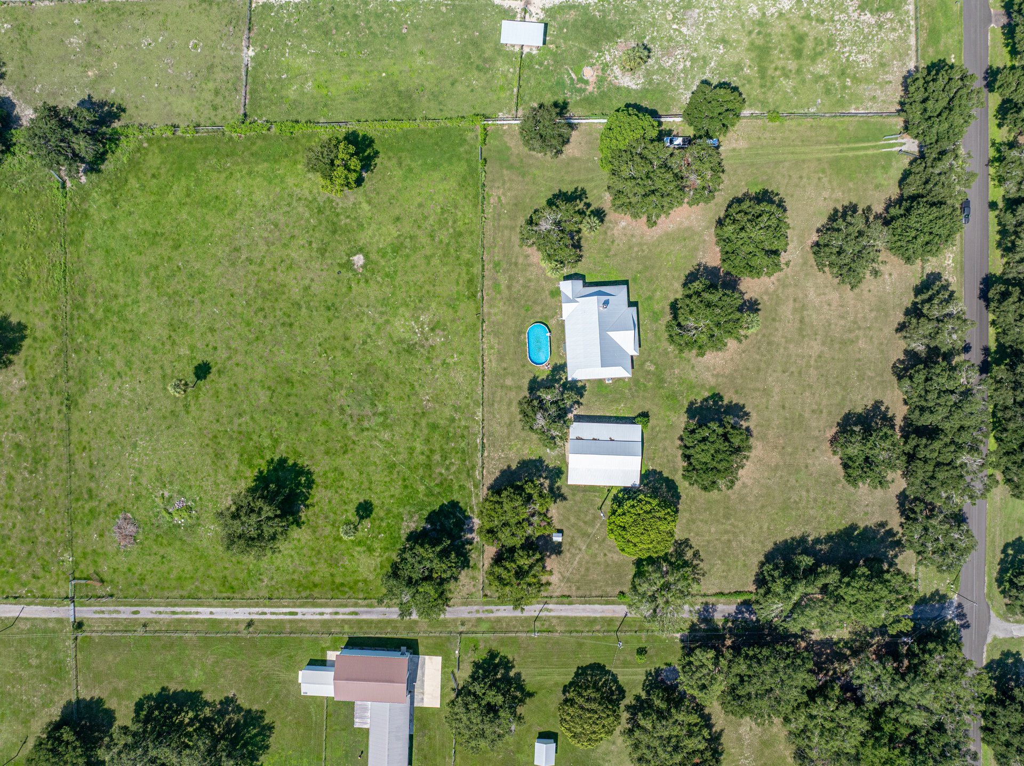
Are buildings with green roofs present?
No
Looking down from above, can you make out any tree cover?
Yes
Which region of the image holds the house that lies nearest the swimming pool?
center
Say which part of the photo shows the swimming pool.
center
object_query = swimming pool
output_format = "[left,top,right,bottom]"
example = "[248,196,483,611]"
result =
[526,323,550,366]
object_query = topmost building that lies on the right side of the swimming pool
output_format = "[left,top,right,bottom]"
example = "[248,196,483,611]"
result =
[560,280,639,380]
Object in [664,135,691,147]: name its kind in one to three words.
vehicle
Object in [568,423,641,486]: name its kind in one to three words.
barn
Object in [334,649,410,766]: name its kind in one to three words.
building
